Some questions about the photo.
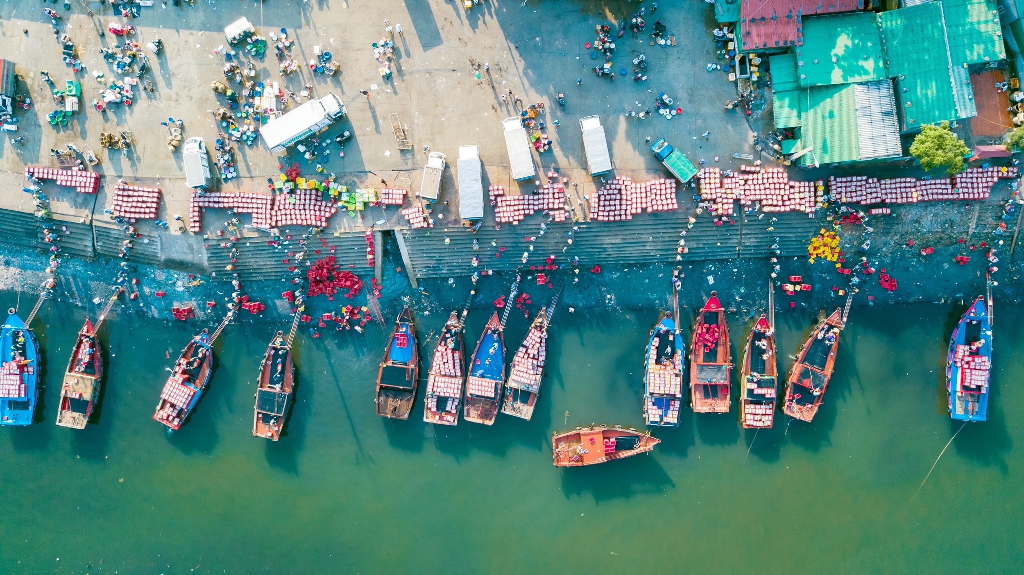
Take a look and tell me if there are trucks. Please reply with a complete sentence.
Yes, the frame does contain a truck.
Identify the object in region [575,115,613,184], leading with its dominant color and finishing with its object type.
white truck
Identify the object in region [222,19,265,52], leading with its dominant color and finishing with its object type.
white vehicle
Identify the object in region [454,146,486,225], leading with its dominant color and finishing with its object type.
white truck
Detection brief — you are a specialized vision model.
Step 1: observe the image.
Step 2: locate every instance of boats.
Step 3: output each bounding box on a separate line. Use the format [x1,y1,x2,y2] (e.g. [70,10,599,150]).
[500,303,555,421]
[250,328,296,442]
[942,292,993,421]
[780,303,846,424]
[687,289,732,413]
[735,310,778,429]
[0,307,48,426]
[551,423,663,468]
[423,309,468,427]
[374,303,421,421]
[150,325,215,433]
[54,316,106,432]
[462,309,509,426]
